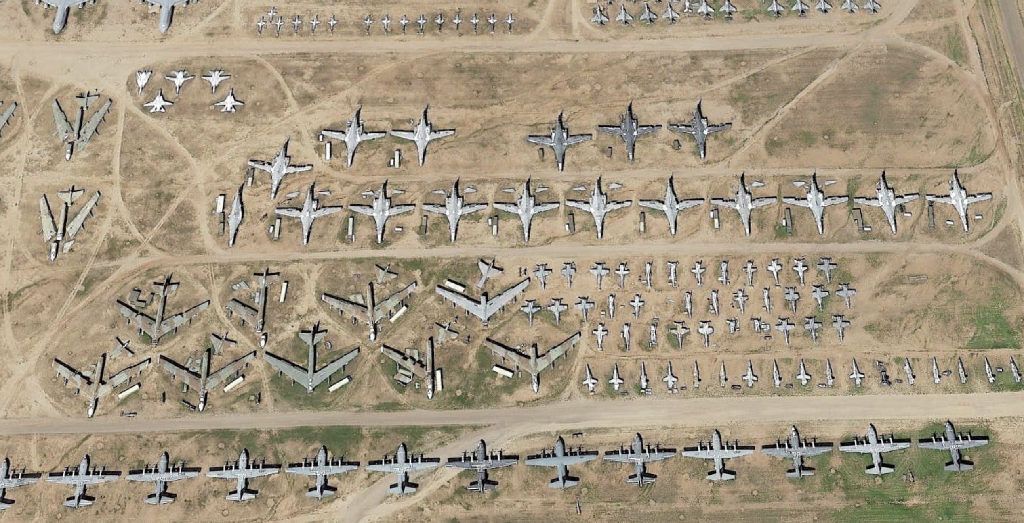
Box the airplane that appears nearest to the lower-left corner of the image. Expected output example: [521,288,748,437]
[0,464,38,514]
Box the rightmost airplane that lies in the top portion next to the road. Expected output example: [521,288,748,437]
[928,167,993,232]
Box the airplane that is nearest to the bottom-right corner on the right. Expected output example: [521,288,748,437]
[917,427,990,477]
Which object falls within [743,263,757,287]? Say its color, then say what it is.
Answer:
white airplane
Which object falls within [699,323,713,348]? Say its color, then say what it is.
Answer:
white airplane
